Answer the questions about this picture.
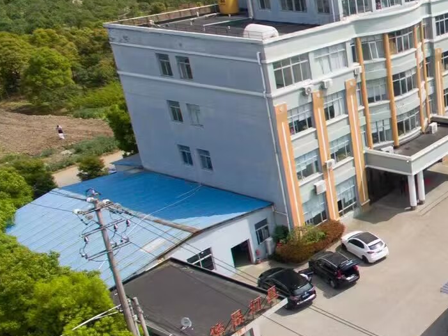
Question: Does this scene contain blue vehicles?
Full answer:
No, I can see no blue vehicle in this picture.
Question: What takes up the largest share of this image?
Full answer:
For the most part, this view shows buildings.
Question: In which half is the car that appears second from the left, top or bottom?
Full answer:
The car that appears second from the left sits in the bottom half of the picture.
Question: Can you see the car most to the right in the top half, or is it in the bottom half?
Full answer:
The car most to the right sits in the bottom half of the picture.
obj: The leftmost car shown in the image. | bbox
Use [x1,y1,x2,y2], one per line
[263,268,316,306]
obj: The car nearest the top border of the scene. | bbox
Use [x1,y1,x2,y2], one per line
[340,233,386,261]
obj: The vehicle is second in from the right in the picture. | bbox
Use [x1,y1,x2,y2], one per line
[308,251,356,287]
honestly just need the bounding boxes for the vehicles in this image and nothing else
[308,251,356,287]
[263,268,316,306]
[340,233,386,261]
